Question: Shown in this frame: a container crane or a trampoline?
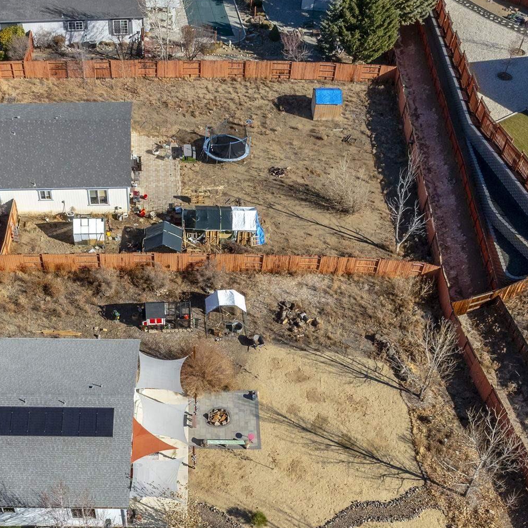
trampoline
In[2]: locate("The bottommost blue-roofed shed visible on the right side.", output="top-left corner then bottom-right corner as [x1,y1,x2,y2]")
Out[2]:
[311,87,345,119]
